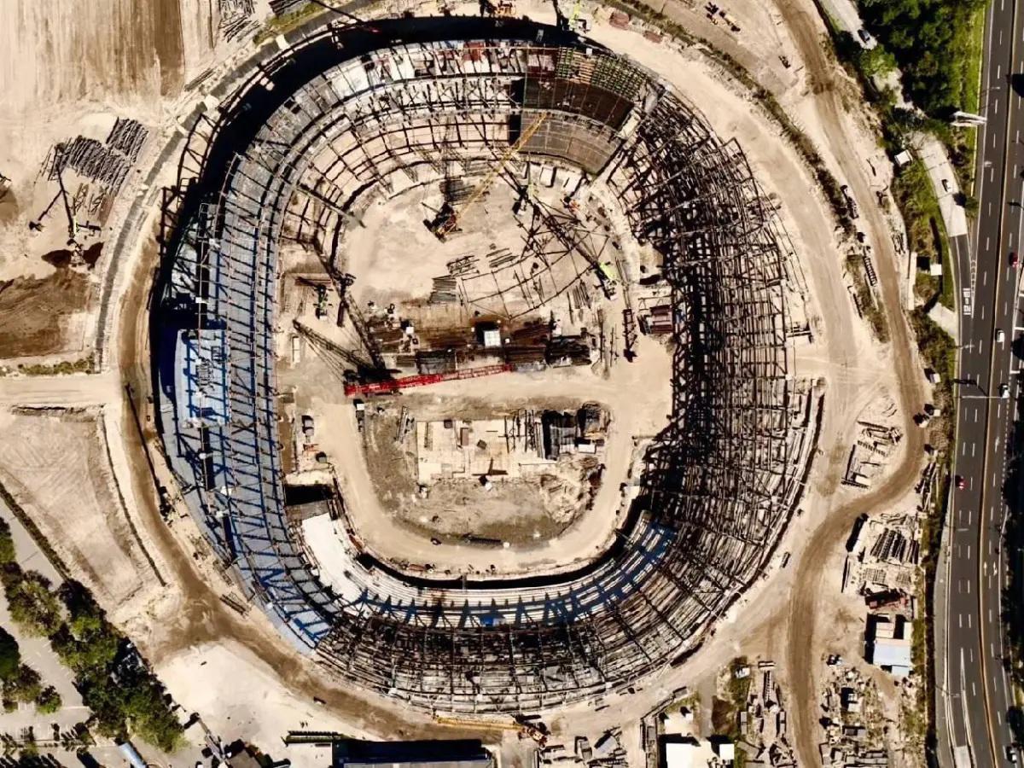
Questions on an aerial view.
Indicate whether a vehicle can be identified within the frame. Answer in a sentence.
Yes, there's a vehicle down there.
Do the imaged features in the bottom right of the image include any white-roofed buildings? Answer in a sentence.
Yes, I can see a white-roofed building in the bottom right of the image.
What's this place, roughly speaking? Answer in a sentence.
This image shows a sports ground.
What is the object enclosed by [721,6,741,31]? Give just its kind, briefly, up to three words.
vehicle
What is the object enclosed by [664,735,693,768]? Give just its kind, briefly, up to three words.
building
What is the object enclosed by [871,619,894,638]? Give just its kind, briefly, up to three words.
building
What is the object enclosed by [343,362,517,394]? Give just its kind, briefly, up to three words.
crane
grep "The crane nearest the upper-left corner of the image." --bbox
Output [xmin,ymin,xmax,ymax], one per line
[63,212,98,250]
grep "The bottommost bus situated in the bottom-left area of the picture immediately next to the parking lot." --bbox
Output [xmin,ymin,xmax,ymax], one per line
[120,746,147,768]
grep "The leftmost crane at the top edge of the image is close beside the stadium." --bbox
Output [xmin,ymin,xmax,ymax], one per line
[308,0,395,42]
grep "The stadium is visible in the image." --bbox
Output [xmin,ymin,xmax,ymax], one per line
[166,36,824,714]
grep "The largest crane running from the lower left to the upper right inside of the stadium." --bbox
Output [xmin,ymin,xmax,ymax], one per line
[422,111,549,243]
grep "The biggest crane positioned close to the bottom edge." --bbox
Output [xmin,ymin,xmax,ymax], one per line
[432,714,550,746]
